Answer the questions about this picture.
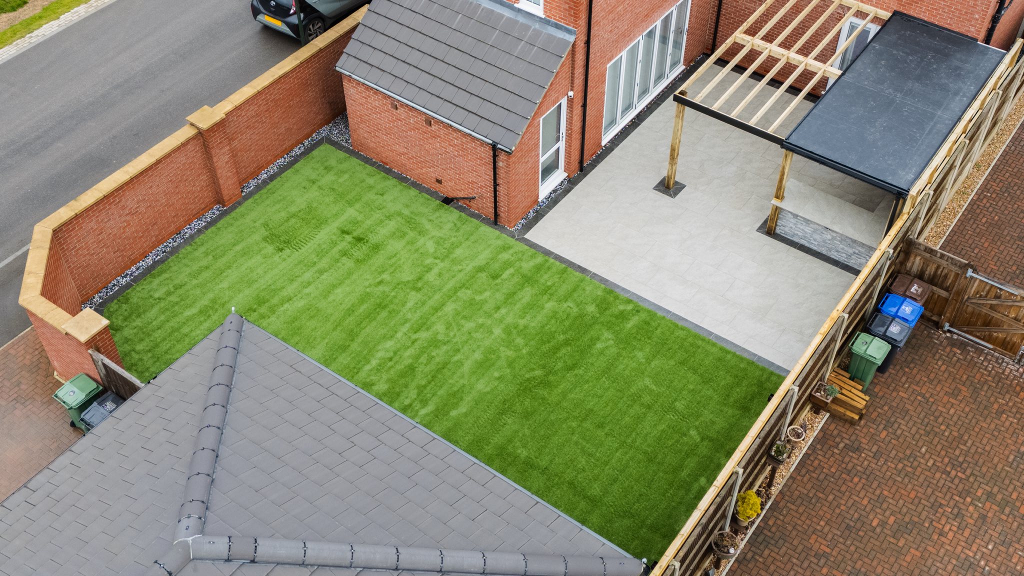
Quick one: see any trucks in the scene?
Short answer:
No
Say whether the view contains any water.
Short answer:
No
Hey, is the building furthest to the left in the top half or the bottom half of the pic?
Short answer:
bottom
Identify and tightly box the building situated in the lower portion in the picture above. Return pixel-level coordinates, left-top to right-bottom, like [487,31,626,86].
[0,307,645,576]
